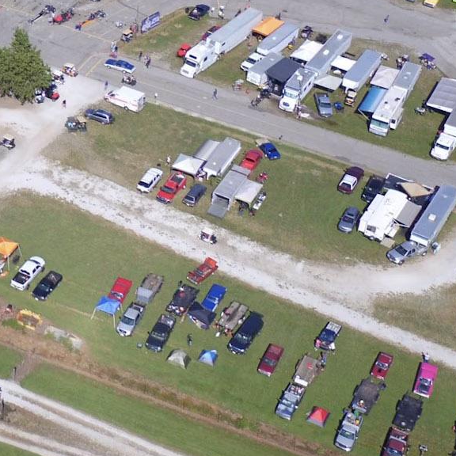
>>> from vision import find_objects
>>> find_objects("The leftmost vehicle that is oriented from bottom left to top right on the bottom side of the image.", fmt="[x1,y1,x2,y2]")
[12,257,43,293]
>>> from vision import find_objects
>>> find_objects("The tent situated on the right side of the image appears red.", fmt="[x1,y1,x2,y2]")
[305,407,331,427]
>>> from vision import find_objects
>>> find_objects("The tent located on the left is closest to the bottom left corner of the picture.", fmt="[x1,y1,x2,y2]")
[165,348,191,371]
